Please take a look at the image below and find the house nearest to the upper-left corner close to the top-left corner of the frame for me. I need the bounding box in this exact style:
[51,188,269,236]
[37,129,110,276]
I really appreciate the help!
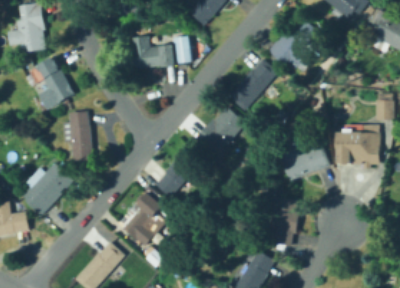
[8,4,45,52]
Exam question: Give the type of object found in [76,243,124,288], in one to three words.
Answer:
house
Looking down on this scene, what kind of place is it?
residential area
